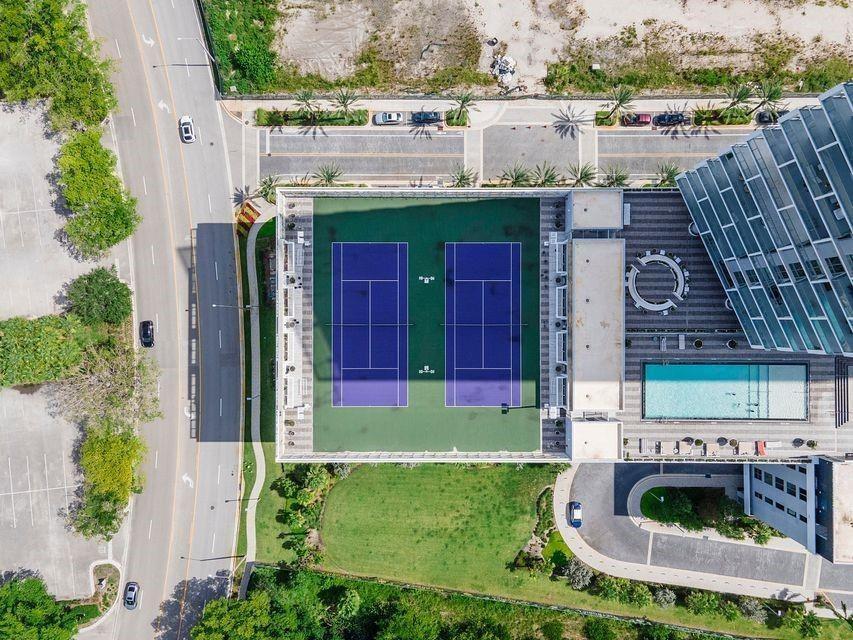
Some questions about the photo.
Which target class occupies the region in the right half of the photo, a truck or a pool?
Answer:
pool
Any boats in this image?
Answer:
No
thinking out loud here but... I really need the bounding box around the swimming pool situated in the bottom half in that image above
[642,361,810,423]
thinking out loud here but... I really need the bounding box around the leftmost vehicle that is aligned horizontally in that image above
[374,112,403,125]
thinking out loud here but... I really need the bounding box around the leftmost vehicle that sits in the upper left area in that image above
[180,116,196,144]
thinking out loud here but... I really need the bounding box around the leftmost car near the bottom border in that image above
[124,580,140,609]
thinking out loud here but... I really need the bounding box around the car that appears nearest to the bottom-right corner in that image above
[569,501,582,526]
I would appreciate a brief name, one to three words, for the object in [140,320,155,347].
car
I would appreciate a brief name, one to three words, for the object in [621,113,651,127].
vehicle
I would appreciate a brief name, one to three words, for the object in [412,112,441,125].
vehicle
